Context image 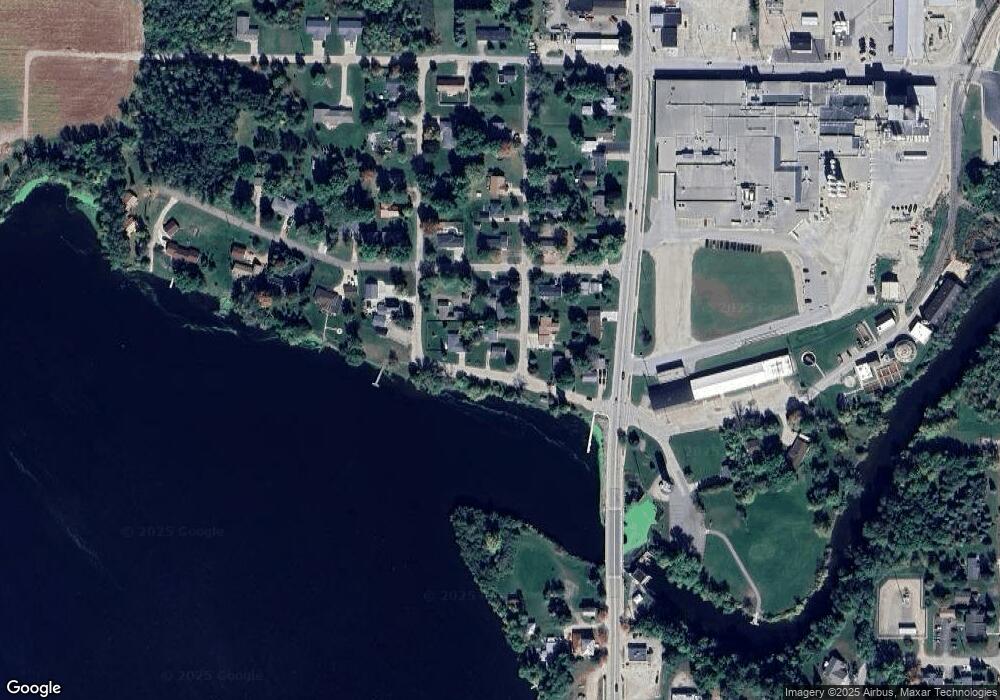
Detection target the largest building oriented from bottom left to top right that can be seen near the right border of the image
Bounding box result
[921,275,966,324]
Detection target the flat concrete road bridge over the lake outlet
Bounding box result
[605,509,624,578]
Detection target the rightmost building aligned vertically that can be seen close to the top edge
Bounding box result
[895,0,923,58]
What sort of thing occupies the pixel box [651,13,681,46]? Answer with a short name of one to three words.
building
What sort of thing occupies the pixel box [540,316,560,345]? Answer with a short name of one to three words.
house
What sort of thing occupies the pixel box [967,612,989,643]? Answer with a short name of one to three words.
house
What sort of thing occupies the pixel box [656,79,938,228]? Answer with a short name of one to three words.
building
